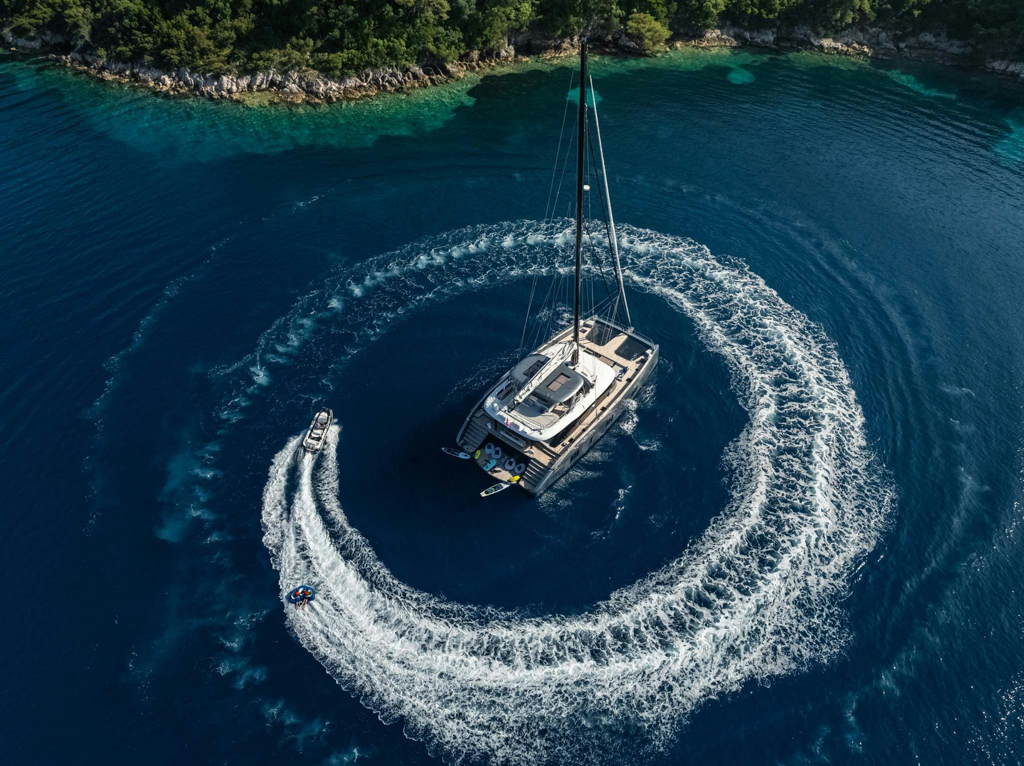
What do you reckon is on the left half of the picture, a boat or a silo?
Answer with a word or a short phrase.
boat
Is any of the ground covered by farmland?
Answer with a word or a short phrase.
No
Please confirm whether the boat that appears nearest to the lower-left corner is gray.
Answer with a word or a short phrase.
Yes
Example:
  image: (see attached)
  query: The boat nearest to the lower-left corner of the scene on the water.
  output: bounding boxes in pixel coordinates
[299,403,332,458]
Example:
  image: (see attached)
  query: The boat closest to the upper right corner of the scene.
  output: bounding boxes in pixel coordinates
[449,18,660,501]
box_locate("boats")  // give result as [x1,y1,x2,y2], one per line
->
[449,18,660,501]
[299,403,332,458]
